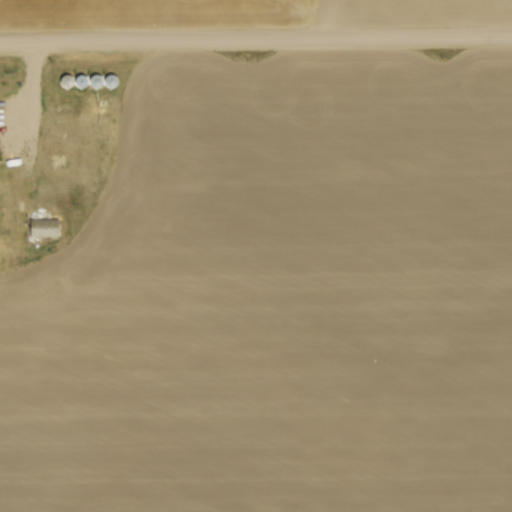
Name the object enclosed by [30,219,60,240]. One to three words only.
shed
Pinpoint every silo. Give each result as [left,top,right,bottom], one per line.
[60,75,74,91]
[90,75,104,90]
[75,75,90,90]
[104,75,119,91]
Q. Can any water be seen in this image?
No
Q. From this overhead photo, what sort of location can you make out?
farmland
